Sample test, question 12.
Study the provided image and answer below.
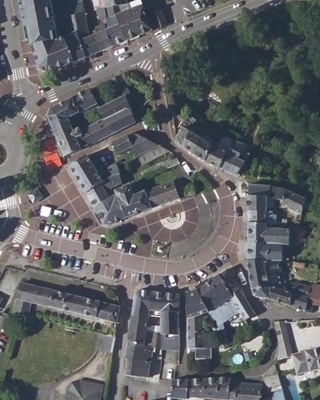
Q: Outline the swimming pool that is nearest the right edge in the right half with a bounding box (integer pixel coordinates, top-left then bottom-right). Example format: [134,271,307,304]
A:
[288,373,302,400]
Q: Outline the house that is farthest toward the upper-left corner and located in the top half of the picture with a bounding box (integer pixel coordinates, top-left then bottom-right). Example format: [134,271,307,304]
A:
[20,0,62,41]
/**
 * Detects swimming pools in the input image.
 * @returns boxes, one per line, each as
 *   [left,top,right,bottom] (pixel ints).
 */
[233,354,244,365]
[288,373,302,400]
